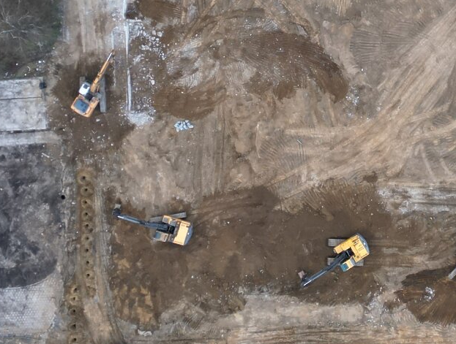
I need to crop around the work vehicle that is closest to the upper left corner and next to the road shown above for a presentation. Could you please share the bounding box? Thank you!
[66,42,124,120]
